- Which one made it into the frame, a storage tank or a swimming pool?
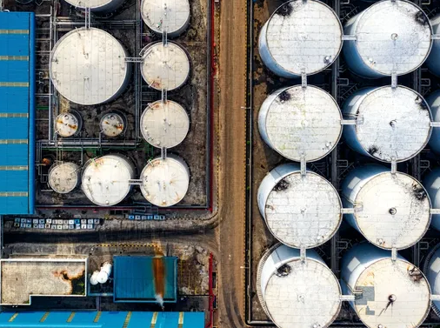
storage tank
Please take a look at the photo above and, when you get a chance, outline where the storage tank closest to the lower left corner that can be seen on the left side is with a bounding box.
[48,160,82,194]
